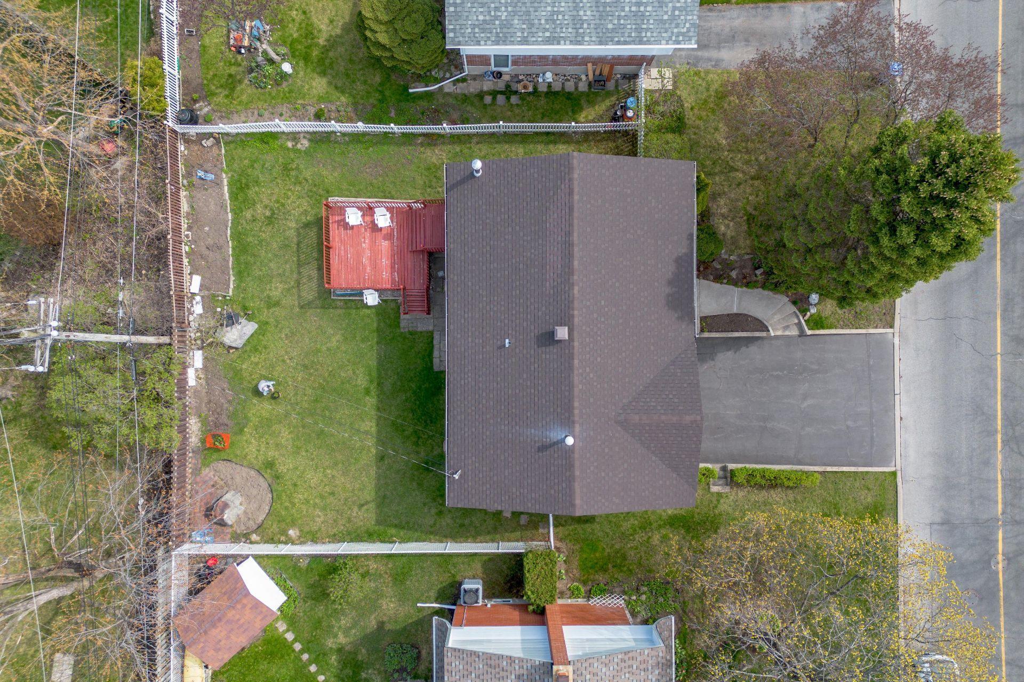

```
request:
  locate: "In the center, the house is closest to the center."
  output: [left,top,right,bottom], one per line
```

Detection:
[444,153,704,516]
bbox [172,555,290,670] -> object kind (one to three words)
shed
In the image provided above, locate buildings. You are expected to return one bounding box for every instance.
[444,153,704,516]
[409,0,701,92]
[418,599,677,682]
[172,555,290,670]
